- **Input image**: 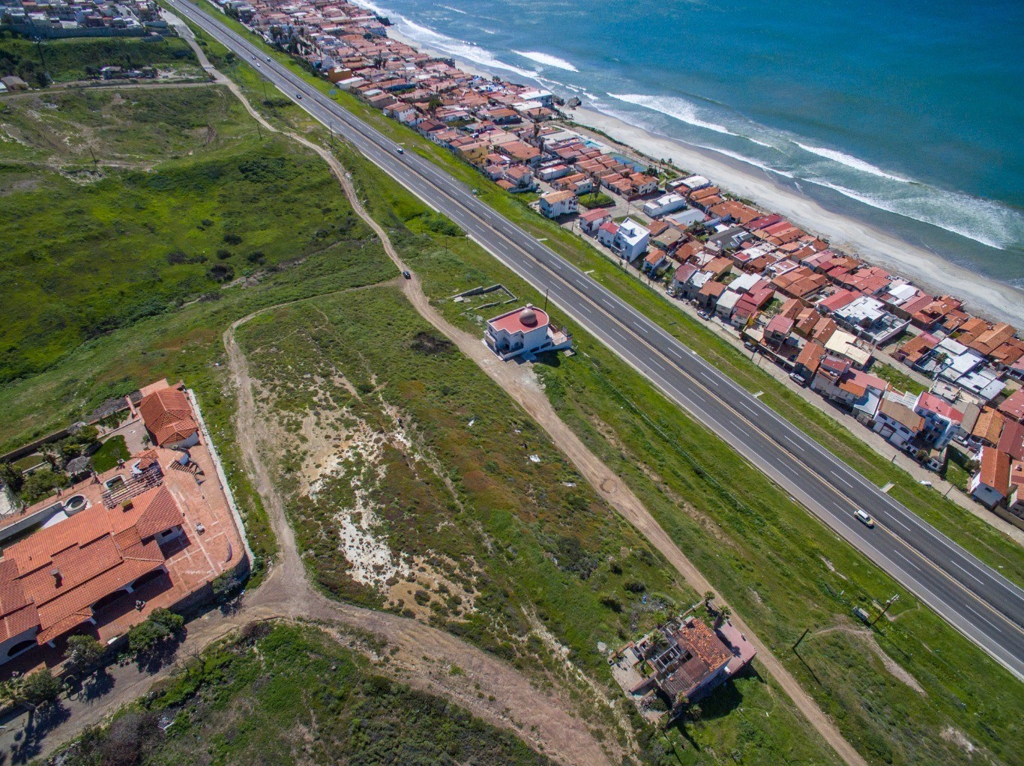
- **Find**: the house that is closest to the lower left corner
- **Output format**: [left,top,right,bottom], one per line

[0,484,184,660]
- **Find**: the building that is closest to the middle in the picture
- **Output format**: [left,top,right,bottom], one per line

[484,302,572,358]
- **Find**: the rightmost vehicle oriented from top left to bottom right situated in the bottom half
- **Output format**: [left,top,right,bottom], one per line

[916,474,939,490]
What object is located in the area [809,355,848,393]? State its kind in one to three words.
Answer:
house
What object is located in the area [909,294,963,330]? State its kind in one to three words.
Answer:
house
